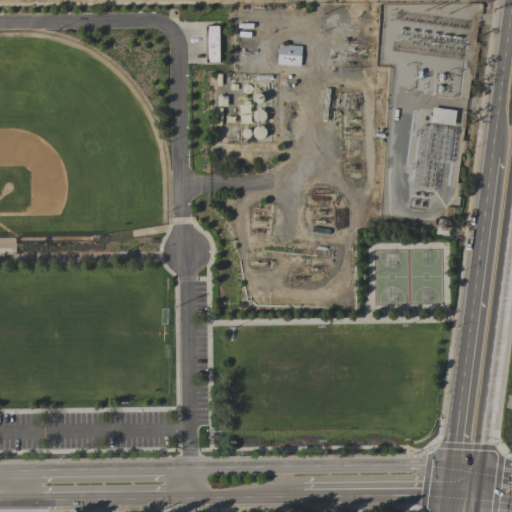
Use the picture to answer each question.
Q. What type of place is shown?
sports ground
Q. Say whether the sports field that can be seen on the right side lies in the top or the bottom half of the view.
bottom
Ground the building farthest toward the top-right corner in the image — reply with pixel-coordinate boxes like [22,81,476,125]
[432,108,458,124]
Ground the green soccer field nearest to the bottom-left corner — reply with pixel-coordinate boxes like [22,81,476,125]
[0,258,176,408]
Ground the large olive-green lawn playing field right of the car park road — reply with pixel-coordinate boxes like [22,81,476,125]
[212,324,452,434]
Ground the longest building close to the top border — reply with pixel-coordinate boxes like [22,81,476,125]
[206,25,220,62]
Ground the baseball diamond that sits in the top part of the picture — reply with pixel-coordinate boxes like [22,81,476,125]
[0,30,170,236]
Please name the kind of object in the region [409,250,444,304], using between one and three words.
basketball court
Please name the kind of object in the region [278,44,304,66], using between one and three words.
shed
